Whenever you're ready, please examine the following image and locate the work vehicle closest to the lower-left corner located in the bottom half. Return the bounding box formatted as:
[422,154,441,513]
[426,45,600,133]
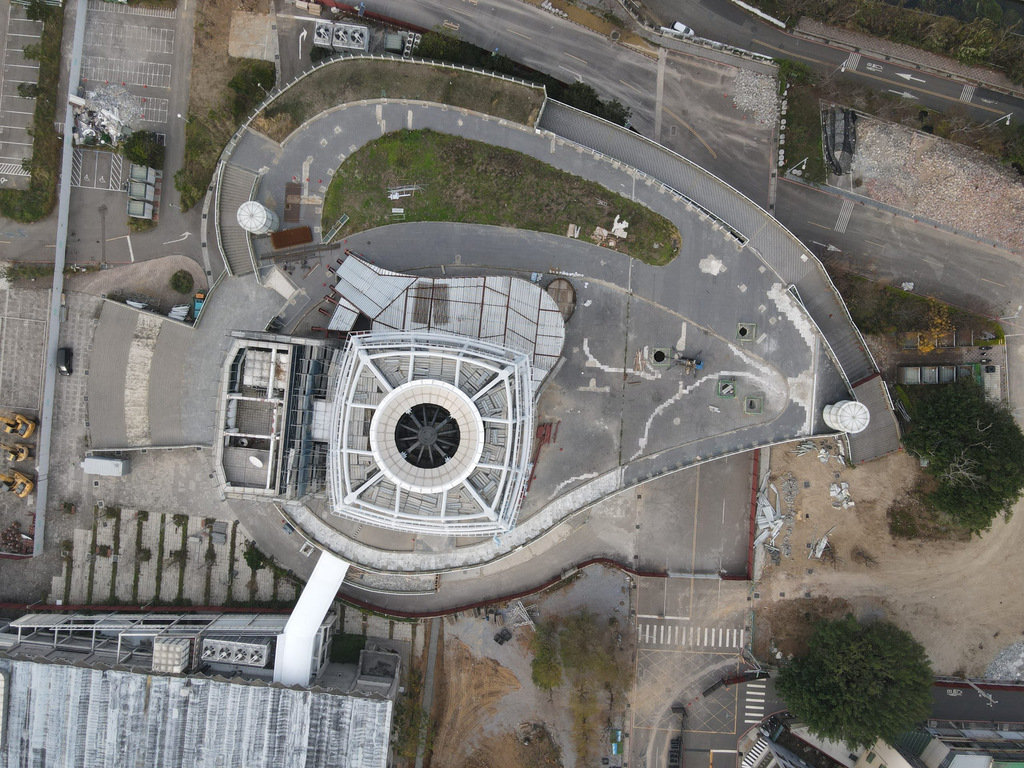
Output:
[0,474,35,498]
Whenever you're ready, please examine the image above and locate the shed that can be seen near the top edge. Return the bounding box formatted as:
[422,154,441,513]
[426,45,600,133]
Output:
[384,34,404,55]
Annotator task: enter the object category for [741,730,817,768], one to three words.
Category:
house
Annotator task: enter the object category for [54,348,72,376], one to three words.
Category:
car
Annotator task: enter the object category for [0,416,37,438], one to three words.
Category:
work vehicle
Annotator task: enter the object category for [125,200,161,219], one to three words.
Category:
shed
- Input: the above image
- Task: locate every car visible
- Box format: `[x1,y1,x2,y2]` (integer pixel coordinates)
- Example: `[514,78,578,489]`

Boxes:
[670,16,698,38]
[54,348,72,376]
